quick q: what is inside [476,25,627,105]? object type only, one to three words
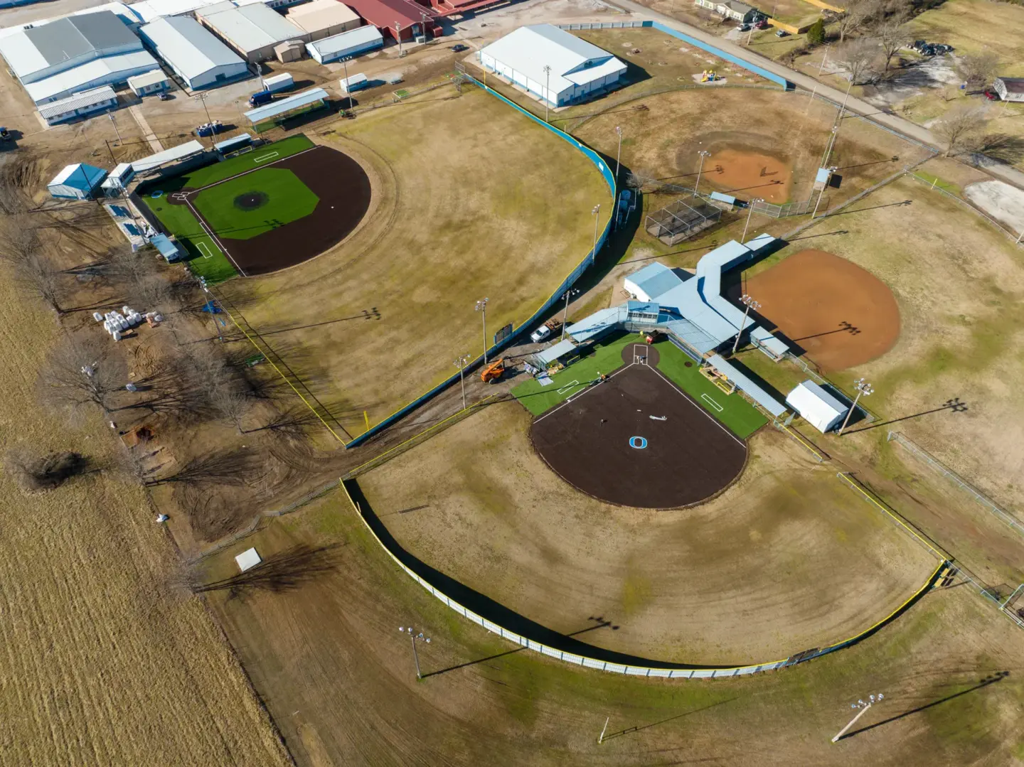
building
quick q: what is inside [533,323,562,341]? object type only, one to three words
vehicle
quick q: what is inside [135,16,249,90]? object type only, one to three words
building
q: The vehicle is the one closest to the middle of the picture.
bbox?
[479,356,515,384]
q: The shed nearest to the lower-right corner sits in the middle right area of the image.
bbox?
[786,378,850,433]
